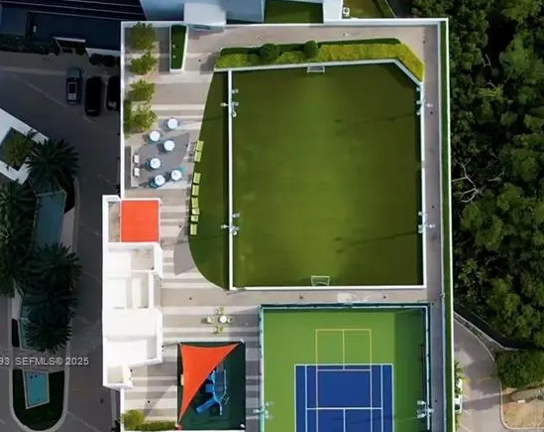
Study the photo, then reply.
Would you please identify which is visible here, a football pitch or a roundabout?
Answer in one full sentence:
I can see a football pitch in this picture.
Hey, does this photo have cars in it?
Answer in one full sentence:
Yes, you can see a car in this photo.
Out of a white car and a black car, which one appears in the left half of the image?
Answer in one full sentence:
You can see a black car in the left half of the image.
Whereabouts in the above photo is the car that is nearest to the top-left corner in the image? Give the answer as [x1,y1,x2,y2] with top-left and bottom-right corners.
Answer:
[65,67,84,106]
